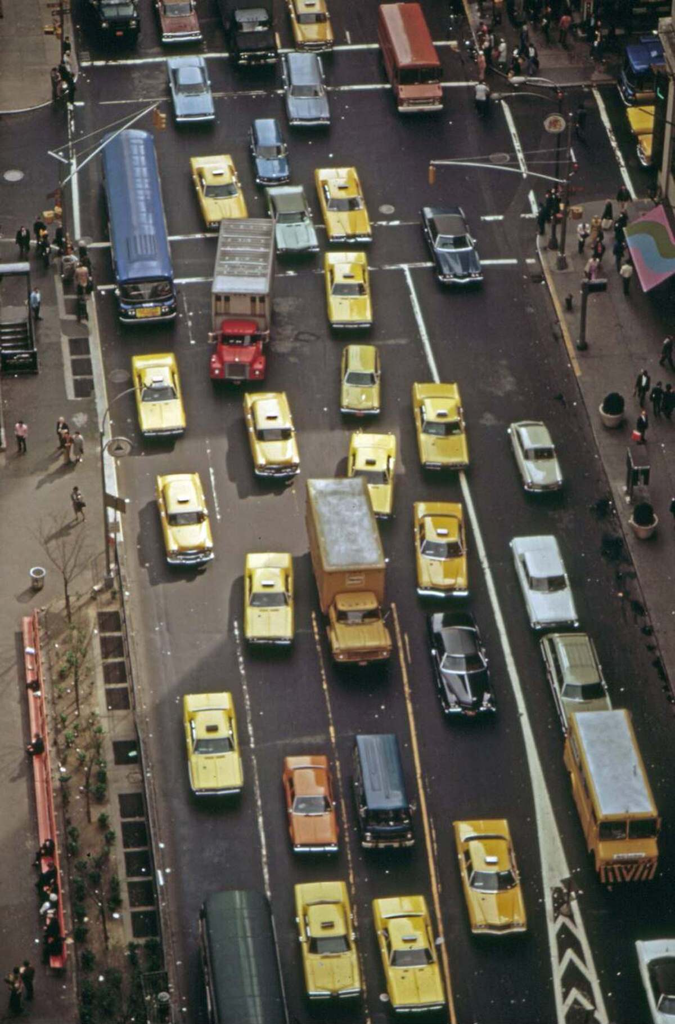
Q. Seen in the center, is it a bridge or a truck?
truck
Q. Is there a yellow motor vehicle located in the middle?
Yes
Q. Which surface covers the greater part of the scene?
paved ground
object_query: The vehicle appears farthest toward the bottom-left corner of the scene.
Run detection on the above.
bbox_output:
[206,894,289,1024]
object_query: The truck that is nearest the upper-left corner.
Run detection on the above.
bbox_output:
[93,0,141,45]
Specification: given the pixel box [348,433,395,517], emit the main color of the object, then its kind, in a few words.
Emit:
yellow car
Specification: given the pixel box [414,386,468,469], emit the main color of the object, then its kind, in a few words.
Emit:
yellow car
